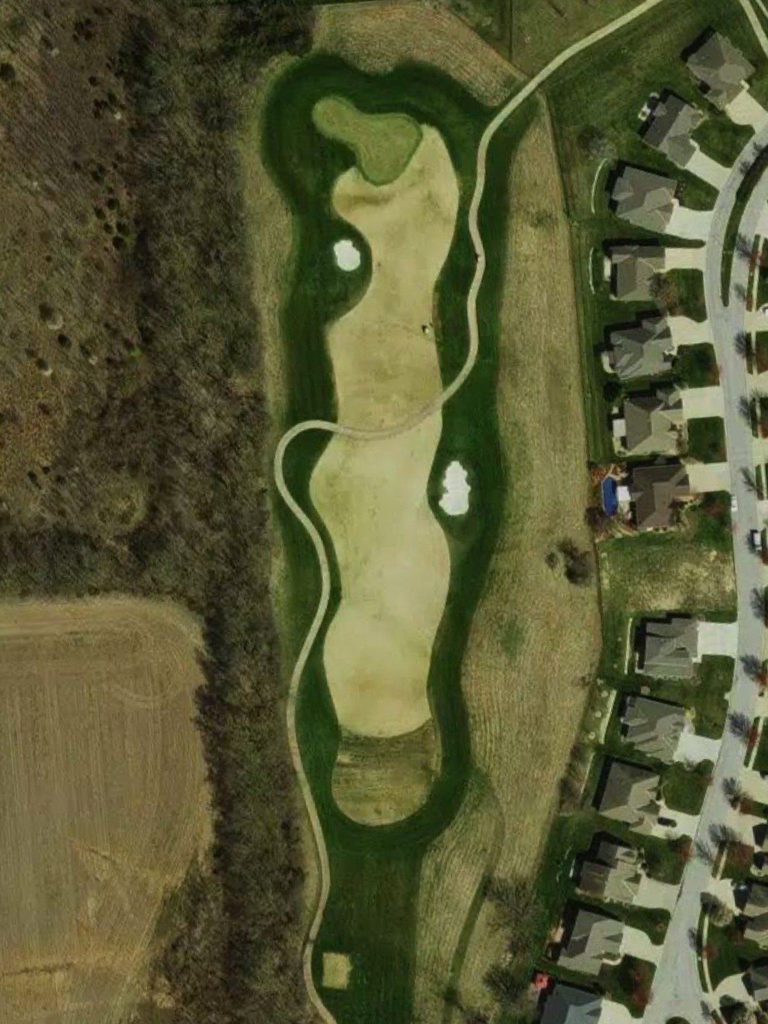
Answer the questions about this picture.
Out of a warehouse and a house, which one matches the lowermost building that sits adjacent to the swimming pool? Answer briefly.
house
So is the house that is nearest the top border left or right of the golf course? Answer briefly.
to the right of it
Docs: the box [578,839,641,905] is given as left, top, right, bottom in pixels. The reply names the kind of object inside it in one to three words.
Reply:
house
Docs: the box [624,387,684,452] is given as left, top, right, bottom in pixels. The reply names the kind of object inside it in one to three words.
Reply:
house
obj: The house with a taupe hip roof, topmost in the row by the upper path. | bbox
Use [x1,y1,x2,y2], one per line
[685,32,750,111]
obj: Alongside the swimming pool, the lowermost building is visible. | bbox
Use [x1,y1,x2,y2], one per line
[632,464,690,529]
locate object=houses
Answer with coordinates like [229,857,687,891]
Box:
[559,907,624,974]
[744,882,768,945]
[632,464,690,529]
[610,246,665,300]
[611,316,673,379]
[685,32,750,111]
[578,839,641,905]
[643,95,703,169]
[610,167,677,235]
[624,387,684,452]
[600,762,662,835]
[746,951,768,1008]
[644,618,698,678]
[622,697,684,763]
[545,984,607,1024]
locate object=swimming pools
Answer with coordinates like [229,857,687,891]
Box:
[602,477,618,517]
